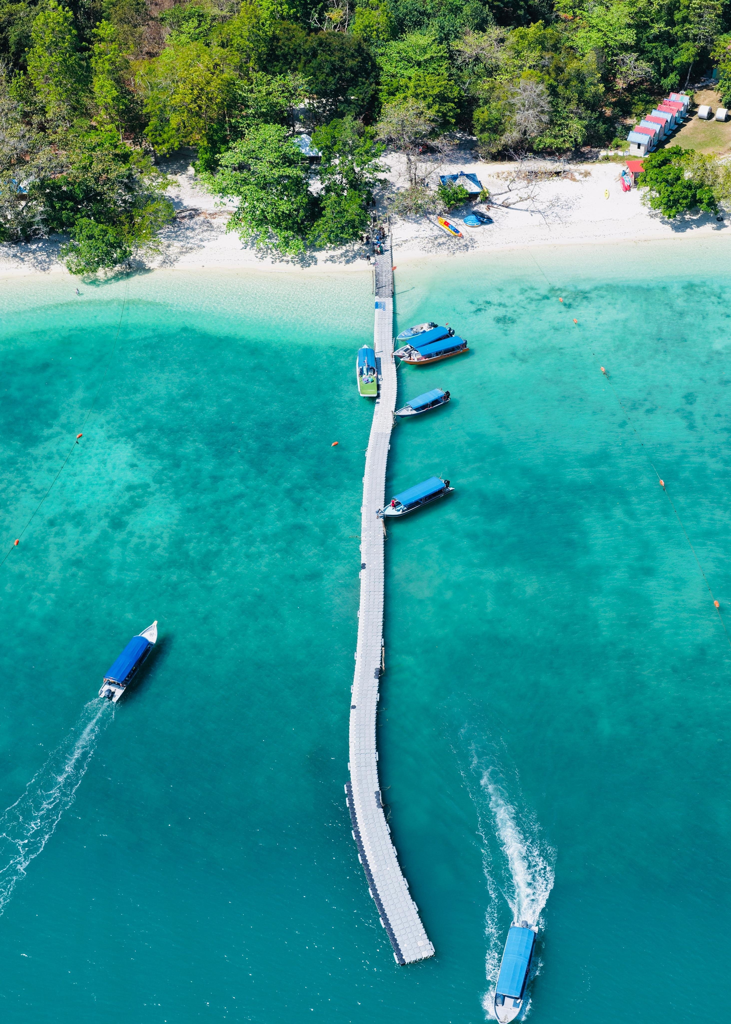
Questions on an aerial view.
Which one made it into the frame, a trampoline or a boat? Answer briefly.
boat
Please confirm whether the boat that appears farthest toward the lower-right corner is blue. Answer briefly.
Yes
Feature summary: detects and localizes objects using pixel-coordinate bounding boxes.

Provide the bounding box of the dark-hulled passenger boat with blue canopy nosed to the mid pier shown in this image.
[380,474,458,523]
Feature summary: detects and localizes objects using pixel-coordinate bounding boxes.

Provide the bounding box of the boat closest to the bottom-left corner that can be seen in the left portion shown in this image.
[99,619,157,704]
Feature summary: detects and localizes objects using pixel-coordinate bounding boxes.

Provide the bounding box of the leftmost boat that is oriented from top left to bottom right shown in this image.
[437,215,463,234]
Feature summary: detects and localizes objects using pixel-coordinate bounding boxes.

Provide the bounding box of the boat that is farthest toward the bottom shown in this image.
[494,919,539,1024]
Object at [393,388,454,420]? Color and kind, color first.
blue boat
